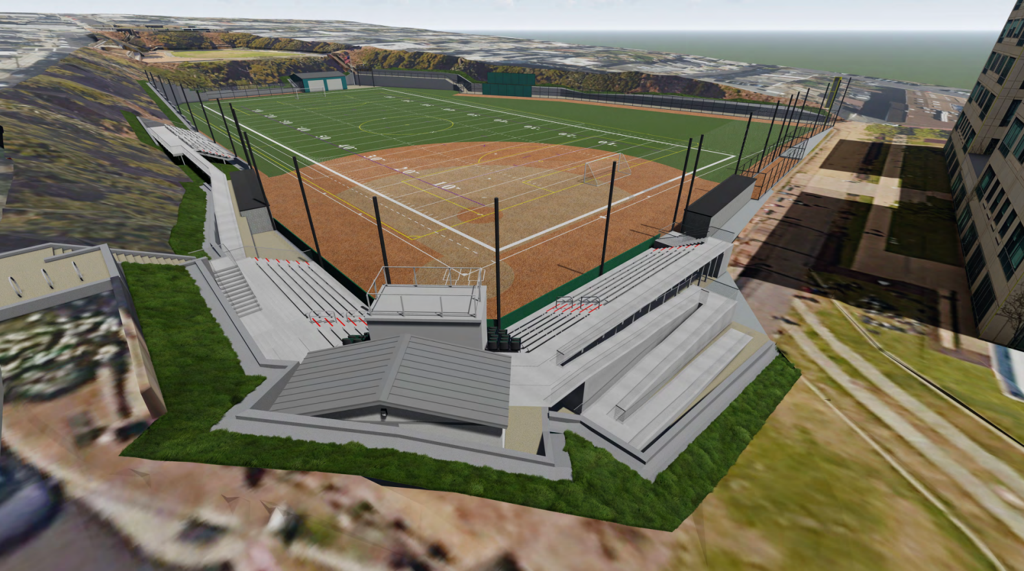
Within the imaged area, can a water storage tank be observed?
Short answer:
No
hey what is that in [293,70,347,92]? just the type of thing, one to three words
shed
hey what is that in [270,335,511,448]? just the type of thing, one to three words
building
